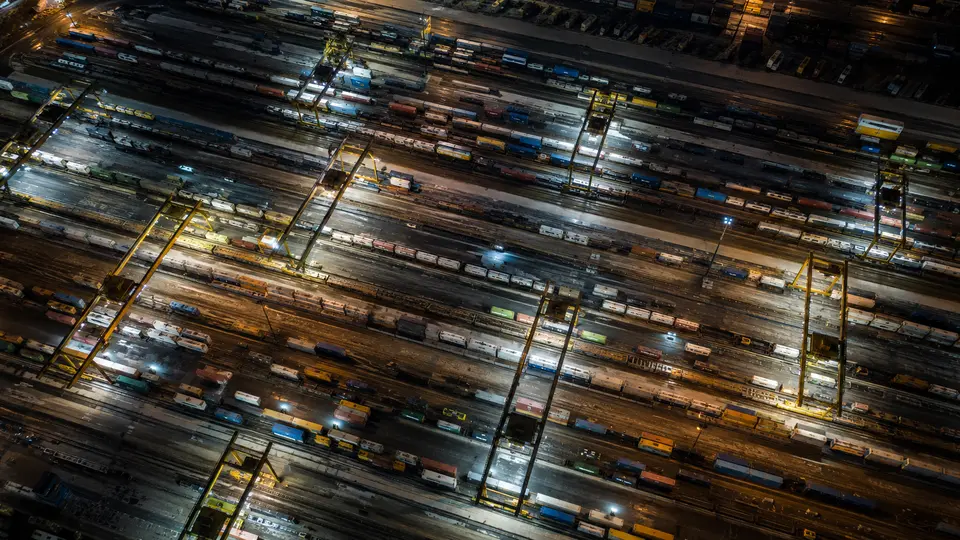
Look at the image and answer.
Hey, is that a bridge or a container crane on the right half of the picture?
container crane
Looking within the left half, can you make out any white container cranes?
No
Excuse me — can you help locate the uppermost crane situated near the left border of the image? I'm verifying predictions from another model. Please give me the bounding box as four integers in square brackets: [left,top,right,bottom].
[0,76,112,199]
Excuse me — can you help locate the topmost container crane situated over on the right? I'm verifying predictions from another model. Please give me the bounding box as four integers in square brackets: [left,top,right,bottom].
[562,88,620,195]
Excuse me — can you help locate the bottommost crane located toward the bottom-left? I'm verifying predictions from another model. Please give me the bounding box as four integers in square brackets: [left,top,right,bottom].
[176,431,283,540]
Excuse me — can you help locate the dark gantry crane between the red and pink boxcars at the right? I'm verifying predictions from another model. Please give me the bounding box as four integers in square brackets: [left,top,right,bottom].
[854,160,908,266]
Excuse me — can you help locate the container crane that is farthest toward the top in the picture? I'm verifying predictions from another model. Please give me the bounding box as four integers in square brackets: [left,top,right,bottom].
[292,33,360,131]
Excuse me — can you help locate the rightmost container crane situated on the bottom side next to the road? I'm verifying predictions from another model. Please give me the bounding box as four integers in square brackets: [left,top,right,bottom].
[775,250,849,420]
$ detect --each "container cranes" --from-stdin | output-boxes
[775,250,849,420]
[562,88,620,195]
[176,431,283,540]
[271,131,376,276]
[854,160,908,266]
[474,286,582,516]
[0,76,112,199]
[292,33,360,131]
[36,193,218,391]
